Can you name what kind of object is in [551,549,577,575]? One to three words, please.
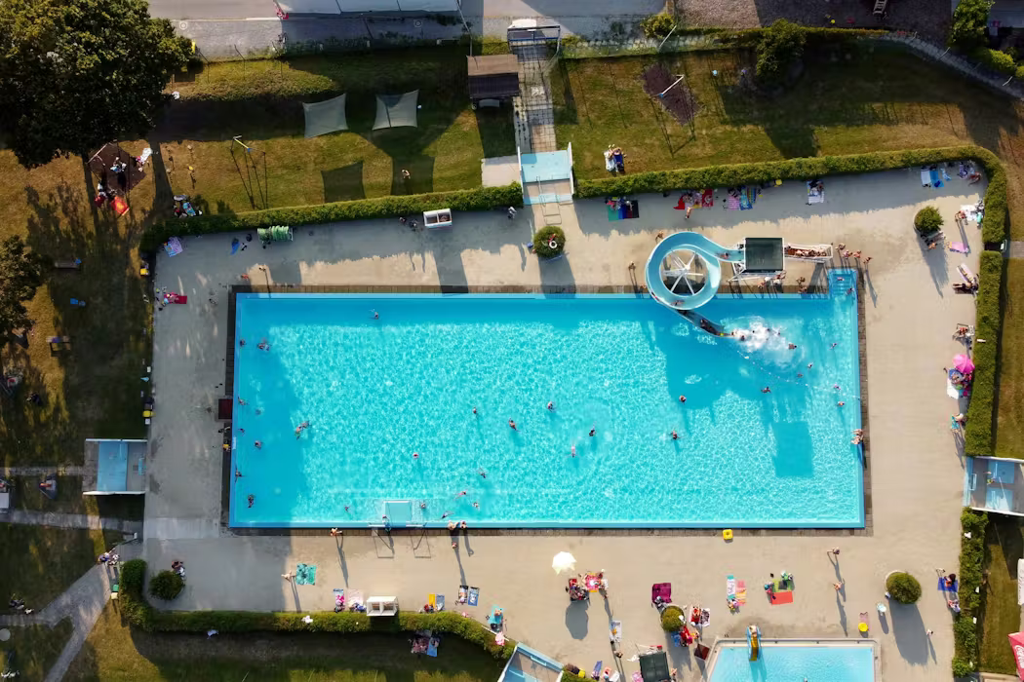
umbrella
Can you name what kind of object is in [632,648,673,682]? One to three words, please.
building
